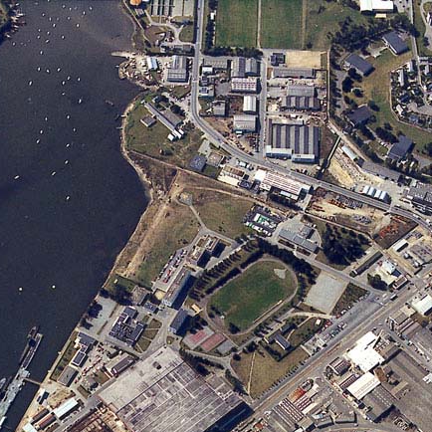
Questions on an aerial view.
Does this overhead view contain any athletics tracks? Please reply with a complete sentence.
Yes, looking at the shot, I can spot an athletics track.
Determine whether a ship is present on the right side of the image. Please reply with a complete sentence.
No, I see no ship on the right side of the image.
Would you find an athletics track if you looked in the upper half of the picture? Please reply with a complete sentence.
No, no athletics track is visible in the upper half of the picture.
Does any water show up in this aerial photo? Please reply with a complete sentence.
Yes, water shows up in the scene.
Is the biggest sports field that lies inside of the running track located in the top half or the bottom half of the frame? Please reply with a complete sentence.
You can find the biggest sports field that lies inside of the running track in the bottom half.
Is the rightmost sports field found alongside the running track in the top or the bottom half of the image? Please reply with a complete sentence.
You can find the rightmost sports field found alongside the running track in the bottom half.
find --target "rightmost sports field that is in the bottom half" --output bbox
[262,262,326,319]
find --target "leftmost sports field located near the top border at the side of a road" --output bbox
[215,0,257,47]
